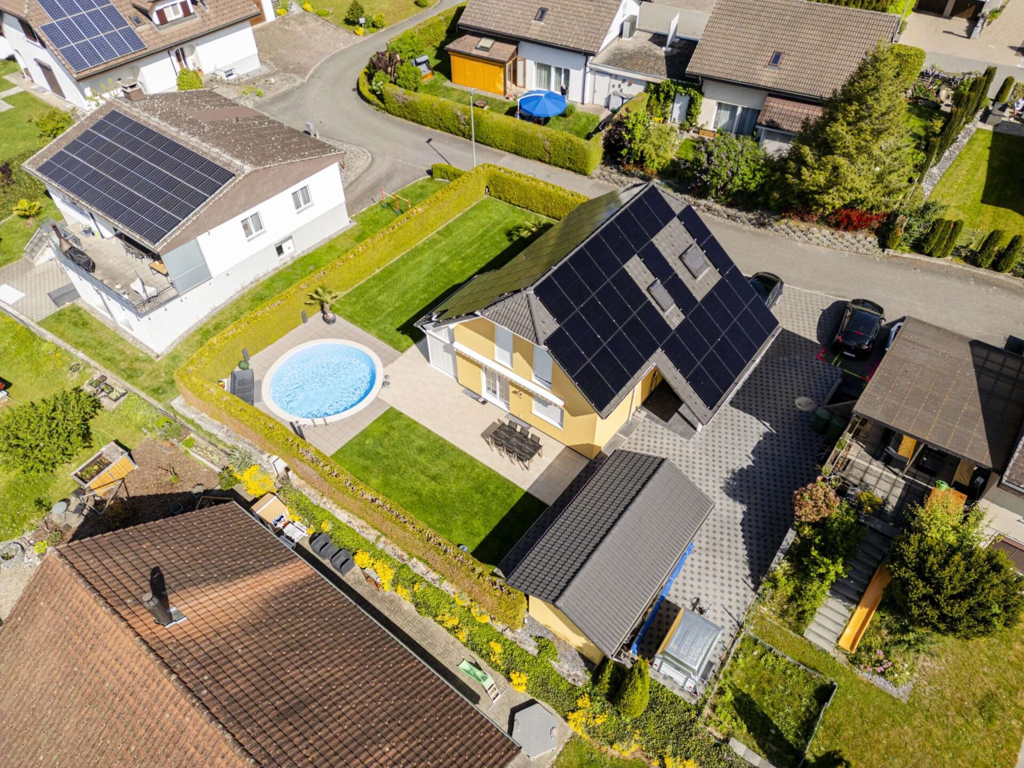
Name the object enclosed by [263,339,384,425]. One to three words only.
swimming pool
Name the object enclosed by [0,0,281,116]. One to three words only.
house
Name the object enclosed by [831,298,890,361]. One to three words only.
car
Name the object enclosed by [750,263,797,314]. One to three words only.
car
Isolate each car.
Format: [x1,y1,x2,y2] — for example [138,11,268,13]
[831,298,890,361]
[750,263,797,314]
[878,314,907,365]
